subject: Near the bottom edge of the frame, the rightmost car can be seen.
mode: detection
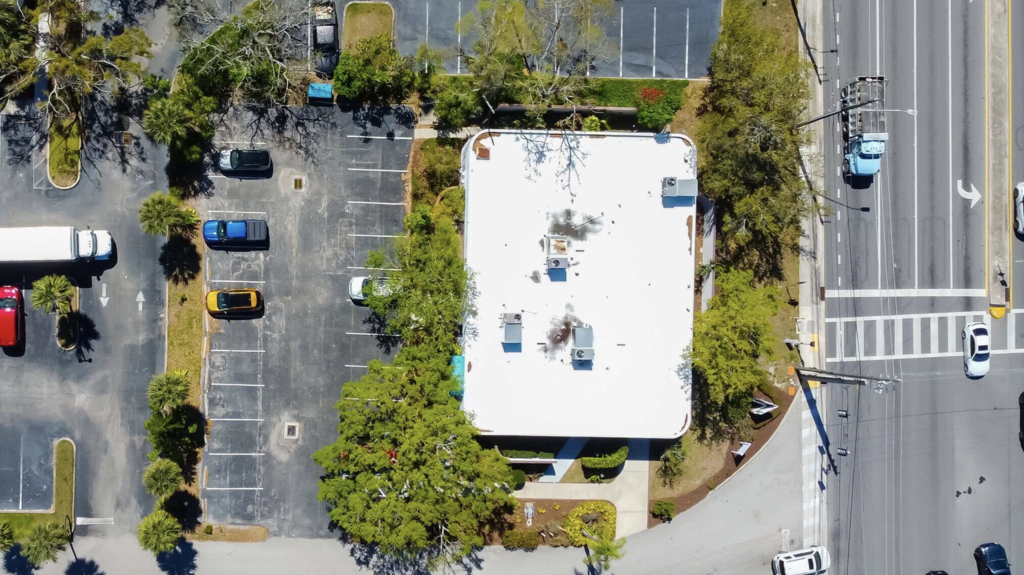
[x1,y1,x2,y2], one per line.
[977,541,1013,575]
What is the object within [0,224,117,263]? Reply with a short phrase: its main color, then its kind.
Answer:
white truck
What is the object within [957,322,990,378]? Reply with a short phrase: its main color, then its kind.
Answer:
white car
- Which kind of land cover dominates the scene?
paved ground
